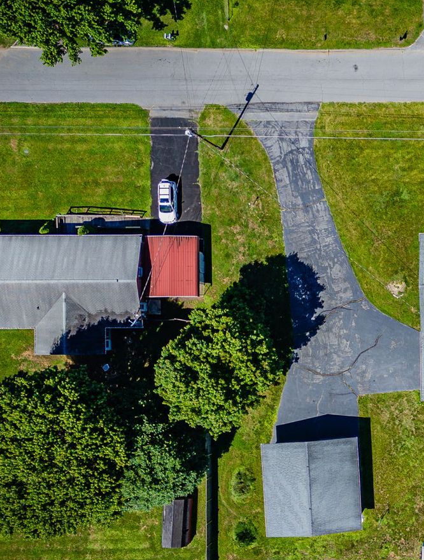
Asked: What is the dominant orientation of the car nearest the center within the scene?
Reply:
from top to bottom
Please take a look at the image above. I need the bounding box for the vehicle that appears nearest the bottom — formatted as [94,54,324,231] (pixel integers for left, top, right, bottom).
[156,178,180,224]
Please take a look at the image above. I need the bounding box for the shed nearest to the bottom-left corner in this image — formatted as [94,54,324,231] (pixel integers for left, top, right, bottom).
[165,494,193,547]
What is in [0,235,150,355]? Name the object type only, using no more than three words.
house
